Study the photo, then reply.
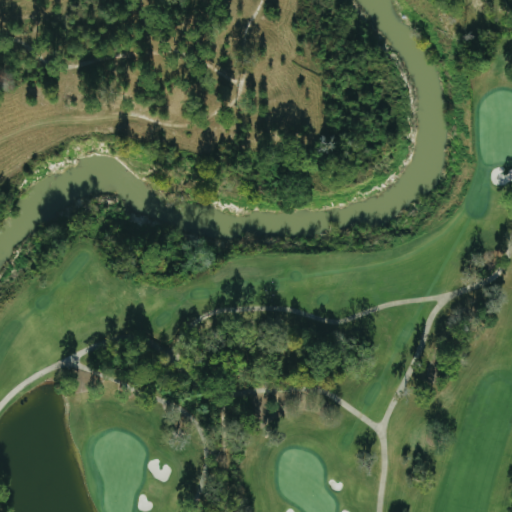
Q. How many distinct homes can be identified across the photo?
0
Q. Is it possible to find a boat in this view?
No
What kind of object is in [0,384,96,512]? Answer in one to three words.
pond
